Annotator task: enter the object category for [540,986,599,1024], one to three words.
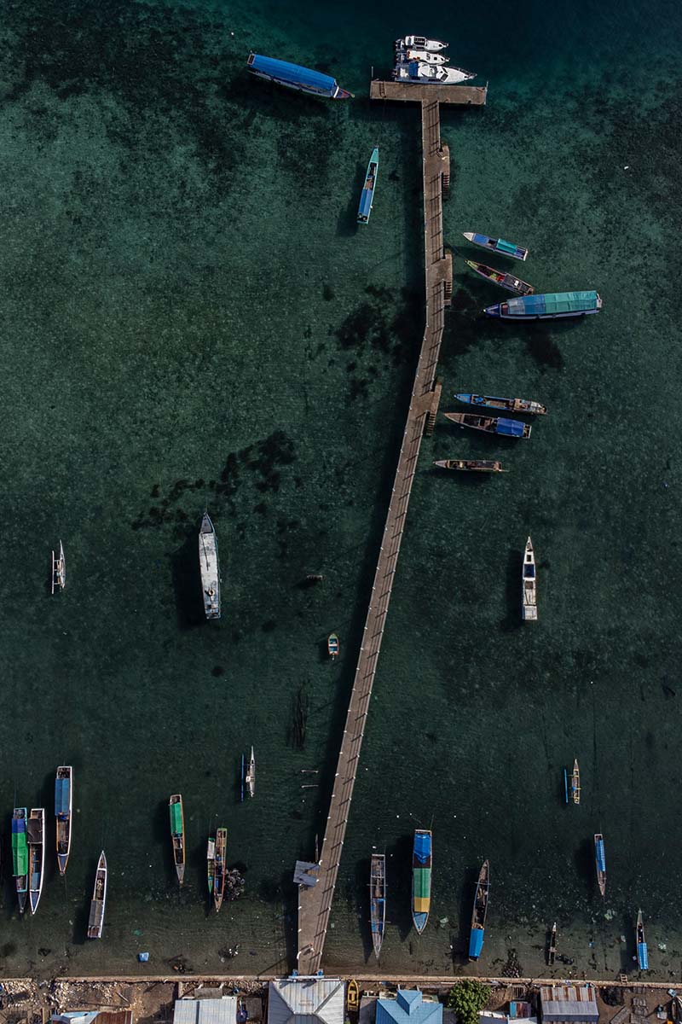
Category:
building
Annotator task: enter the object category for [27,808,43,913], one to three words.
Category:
boat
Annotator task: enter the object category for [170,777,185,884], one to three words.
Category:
boat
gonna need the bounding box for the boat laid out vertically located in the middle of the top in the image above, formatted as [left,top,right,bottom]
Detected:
[357,148,378,225]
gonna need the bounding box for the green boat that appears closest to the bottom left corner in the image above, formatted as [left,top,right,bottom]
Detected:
[11,774,29,911]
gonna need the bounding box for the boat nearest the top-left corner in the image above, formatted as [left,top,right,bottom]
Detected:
[245,55,354,102]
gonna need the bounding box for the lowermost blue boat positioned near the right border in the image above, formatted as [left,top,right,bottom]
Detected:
[637,910,650,971]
